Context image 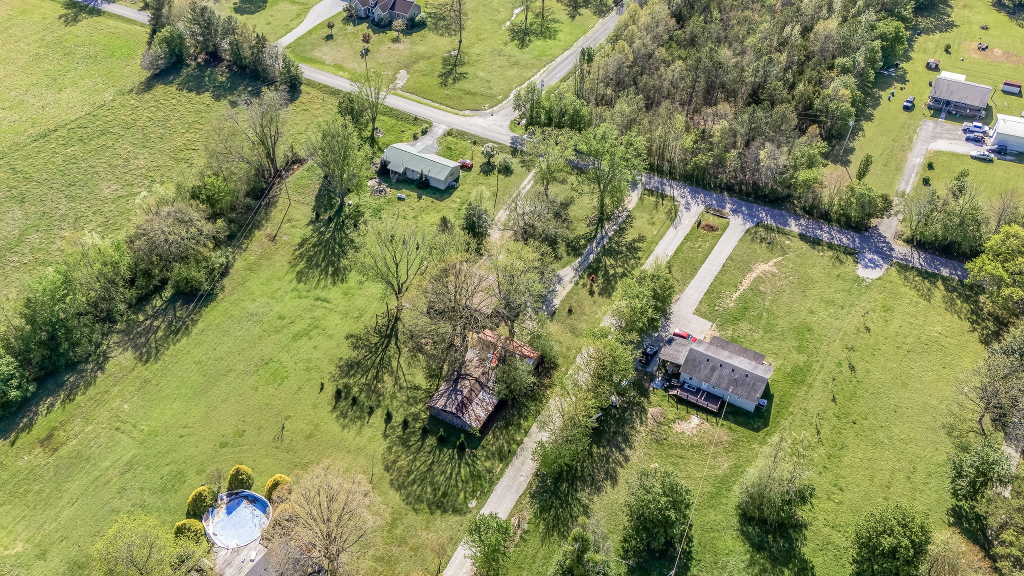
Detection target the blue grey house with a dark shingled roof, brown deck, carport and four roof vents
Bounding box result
[658,336,774,419]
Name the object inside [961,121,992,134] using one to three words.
vehicle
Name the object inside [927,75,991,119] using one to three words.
house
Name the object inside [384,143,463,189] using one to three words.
house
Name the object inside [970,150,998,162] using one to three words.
vehicle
